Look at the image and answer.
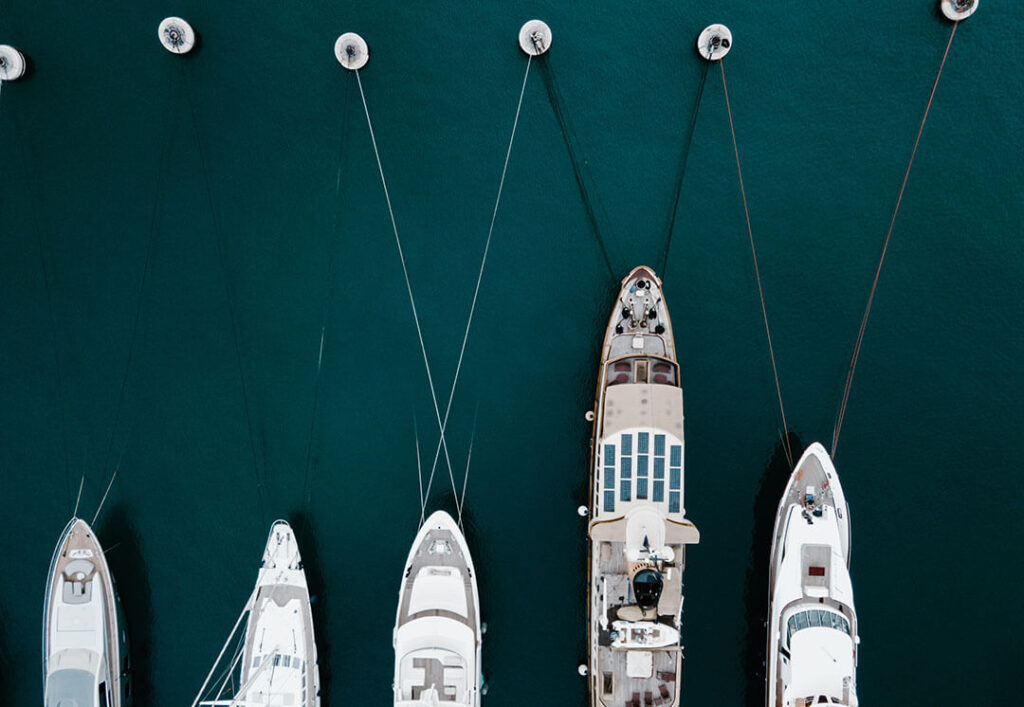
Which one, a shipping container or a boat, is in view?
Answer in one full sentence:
Looking from above, you can make out a boat.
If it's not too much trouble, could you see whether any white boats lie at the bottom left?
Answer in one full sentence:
Yes, you'll find a white boat at the bottom left.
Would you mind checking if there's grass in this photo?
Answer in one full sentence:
No, there is no grass in the image.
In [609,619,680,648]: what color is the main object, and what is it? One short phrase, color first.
white boat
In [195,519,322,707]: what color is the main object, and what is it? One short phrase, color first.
white boat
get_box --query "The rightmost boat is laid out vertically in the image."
[762,440,863,707]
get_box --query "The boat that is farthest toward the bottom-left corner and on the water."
[41,516,134,707]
